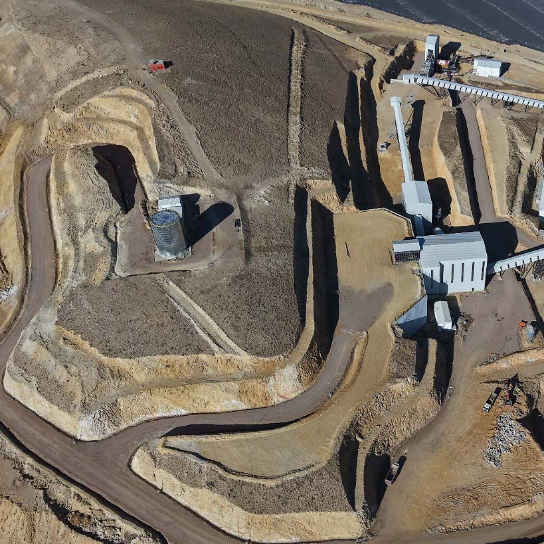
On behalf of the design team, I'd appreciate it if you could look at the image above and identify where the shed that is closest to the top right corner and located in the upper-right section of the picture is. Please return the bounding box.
[475,58,501,76]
